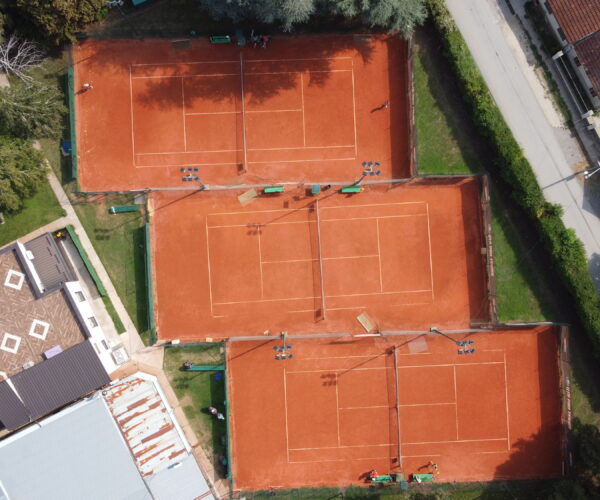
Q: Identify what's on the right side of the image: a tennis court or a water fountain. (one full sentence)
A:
It is a tennis court that can be seen on the right side of the image.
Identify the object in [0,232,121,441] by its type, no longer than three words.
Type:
building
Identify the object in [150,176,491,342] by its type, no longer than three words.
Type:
tennis court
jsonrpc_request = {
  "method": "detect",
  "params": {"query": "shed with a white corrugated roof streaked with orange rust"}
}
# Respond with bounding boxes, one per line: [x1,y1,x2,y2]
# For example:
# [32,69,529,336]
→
[98,370,219,500]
